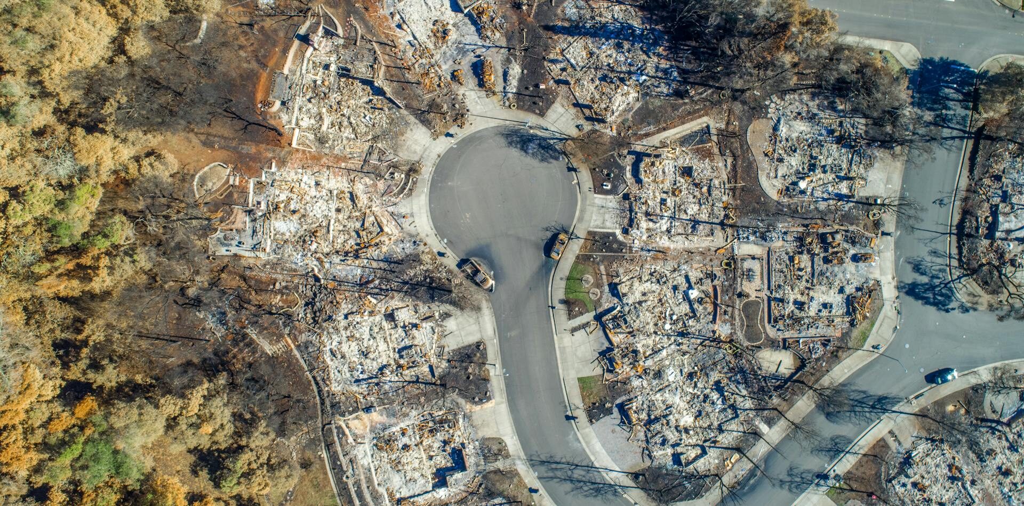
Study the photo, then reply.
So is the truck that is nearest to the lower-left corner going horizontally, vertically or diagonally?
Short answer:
diagonally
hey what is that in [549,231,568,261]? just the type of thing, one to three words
car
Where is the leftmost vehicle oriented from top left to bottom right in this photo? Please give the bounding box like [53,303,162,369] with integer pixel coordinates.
[460,259,492,292]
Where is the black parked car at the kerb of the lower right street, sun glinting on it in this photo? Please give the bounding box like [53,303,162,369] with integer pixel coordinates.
[933,368,963,386]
